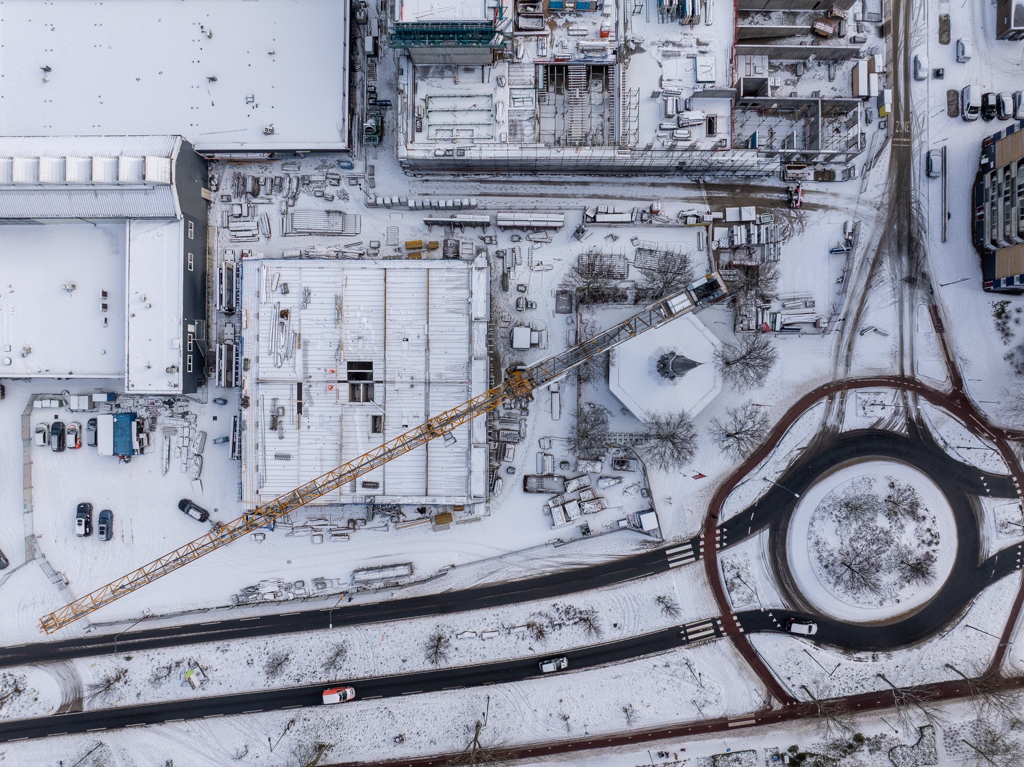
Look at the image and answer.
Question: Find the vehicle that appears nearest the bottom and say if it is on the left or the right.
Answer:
left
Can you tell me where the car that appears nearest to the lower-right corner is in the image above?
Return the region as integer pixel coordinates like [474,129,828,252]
[783,617,816,635]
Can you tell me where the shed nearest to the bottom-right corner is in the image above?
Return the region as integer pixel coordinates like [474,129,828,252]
[637,508,659,532]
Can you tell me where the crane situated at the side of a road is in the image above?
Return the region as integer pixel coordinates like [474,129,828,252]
[33,266,742,633]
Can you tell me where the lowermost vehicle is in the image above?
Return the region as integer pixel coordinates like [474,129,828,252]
[320,684,356,706]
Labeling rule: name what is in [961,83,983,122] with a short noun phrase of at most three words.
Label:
vehicle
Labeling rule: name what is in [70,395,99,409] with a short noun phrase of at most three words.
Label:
shed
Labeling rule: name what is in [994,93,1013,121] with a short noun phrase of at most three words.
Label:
car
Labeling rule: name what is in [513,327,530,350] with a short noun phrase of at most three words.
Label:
shed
